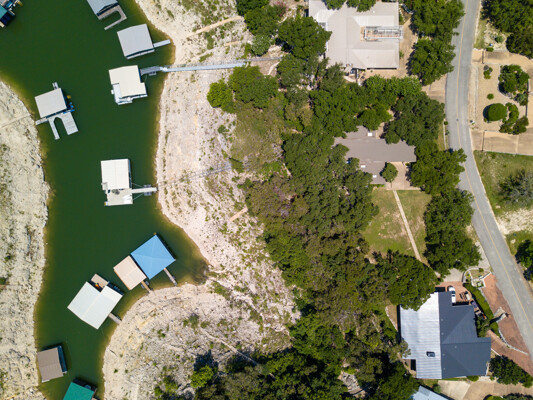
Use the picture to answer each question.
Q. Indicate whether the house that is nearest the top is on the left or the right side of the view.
right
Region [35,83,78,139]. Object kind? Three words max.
pier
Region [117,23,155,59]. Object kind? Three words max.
pier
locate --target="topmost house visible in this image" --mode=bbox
[308,0,404,77]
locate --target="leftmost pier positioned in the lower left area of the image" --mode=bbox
[37,344,68,384]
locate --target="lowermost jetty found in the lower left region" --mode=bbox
[65,377,100,400]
